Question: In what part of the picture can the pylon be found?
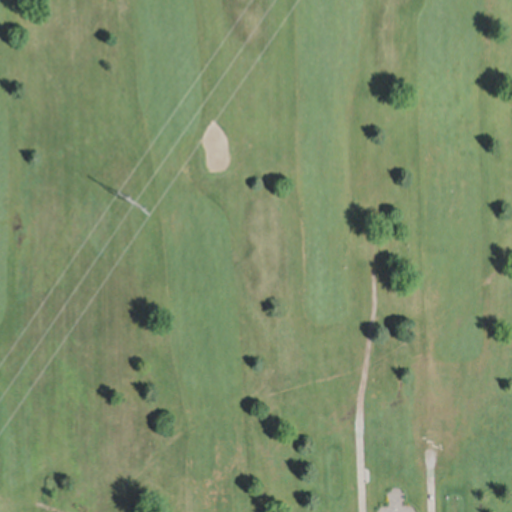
left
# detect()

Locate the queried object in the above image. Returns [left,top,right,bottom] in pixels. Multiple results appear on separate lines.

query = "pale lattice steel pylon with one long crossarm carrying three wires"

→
[118,192,150,216]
